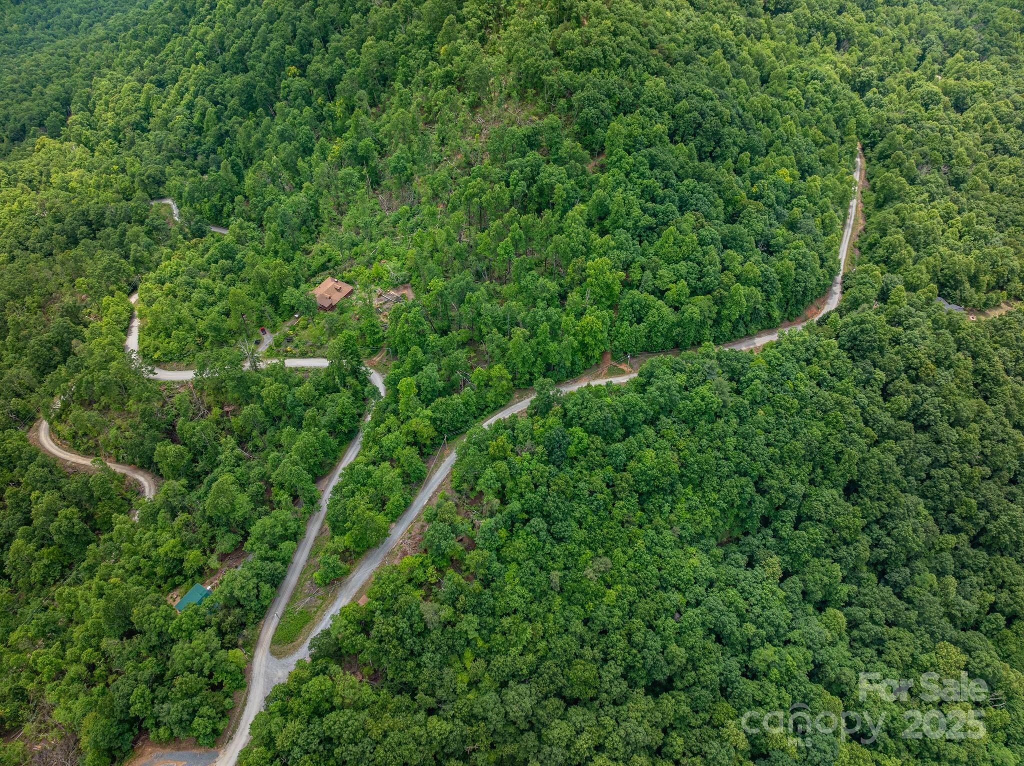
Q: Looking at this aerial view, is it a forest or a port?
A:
forest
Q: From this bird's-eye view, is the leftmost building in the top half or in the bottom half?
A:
bottom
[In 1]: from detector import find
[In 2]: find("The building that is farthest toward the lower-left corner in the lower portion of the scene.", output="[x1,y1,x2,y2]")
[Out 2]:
[172,583,219,618]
